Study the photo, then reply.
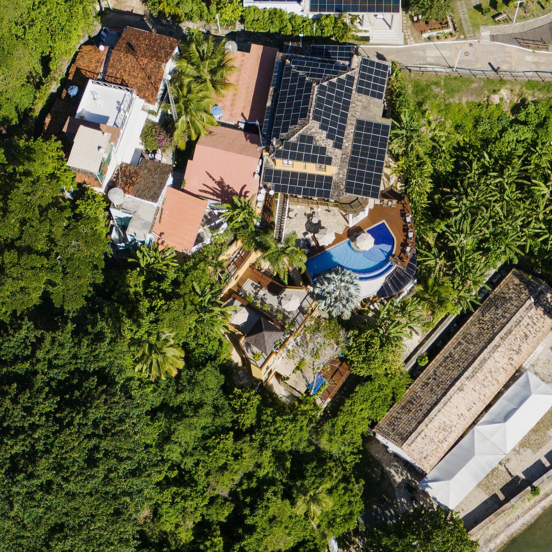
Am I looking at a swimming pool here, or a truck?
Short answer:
swimming pool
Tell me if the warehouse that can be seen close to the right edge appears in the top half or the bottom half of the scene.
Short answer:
bottom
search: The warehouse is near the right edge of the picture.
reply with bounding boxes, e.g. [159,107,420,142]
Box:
[374,268,552,475]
